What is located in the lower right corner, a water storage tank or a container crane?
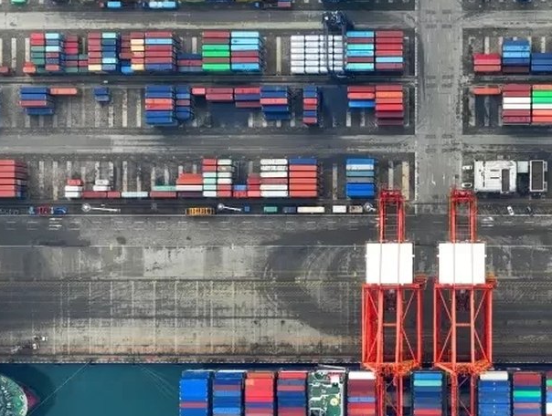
container crane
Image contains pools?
No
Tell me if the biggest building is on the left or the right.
right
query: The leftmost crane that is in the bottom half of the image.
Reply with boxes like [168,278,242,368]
[361,190,429,416]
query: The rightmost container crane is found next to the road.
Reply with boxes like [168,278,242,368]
[429,190,499,416]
